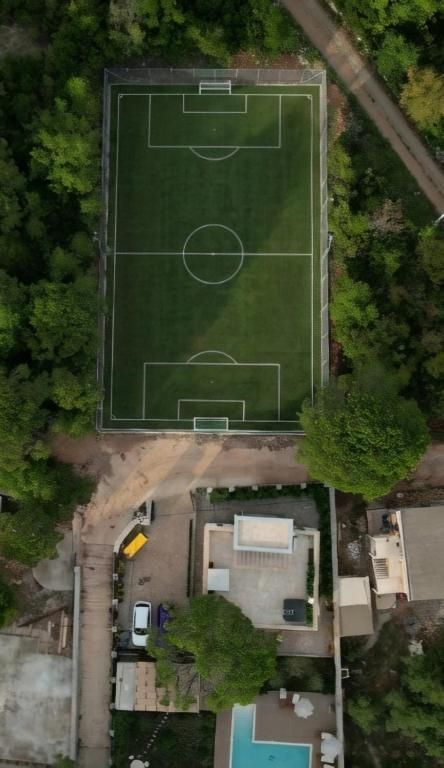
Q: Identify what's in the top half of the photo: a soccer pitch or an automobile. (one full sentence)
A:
Looking in the top half of the photo, you will find a soccer pitch.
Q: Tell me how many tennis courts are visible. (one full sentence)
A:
Not a single tennis court can be seen.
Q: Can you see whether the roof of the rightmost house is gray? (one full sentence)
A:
Yes, gray is the color of the roof of the rightmost house.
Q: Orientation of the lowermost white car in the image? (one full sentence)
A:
The lowermost white car is laid out up and down.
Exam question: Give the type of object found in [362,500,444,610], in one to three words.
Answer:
house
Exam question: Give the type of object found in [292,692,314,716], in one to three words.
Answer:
umbrella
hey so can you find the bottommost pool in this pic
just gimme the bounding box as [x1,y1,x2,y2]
[229,699,315,768]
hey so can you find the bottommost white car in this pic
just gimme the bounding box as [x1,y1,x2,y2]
[129,599,153,646]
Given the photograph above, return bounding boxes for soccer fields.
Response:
[102,85,320,430]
